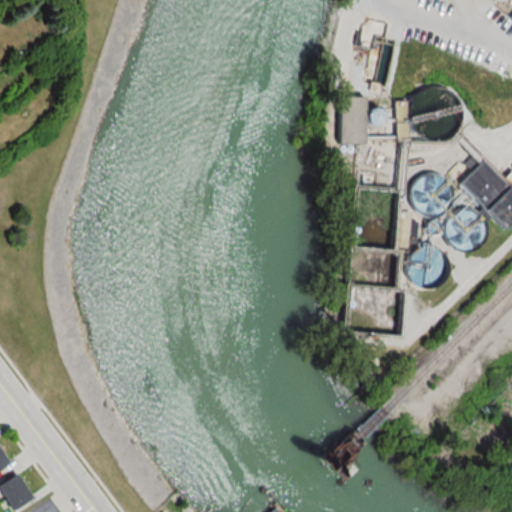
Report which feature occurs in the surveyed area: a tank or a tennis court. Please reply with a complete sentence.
Visible in the photo is a tank.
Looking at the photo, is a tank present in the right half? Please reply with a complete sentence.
Yes, a tank shows up in the right half.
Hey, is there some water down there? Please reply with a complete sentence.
Yes, there's water in this view.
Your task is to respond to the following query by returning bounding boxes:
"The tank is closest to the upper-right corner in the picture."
[408,84,464,141]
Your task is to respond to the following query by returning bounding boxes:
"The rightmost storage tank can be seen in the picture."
[444,209,487,252]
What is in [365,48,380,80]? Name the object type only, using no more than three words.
building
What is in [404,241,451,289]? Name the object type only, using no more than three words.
storage tank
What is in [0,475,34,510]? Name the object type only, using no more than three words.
house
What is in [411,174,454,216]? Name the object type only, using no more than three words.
storage tank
